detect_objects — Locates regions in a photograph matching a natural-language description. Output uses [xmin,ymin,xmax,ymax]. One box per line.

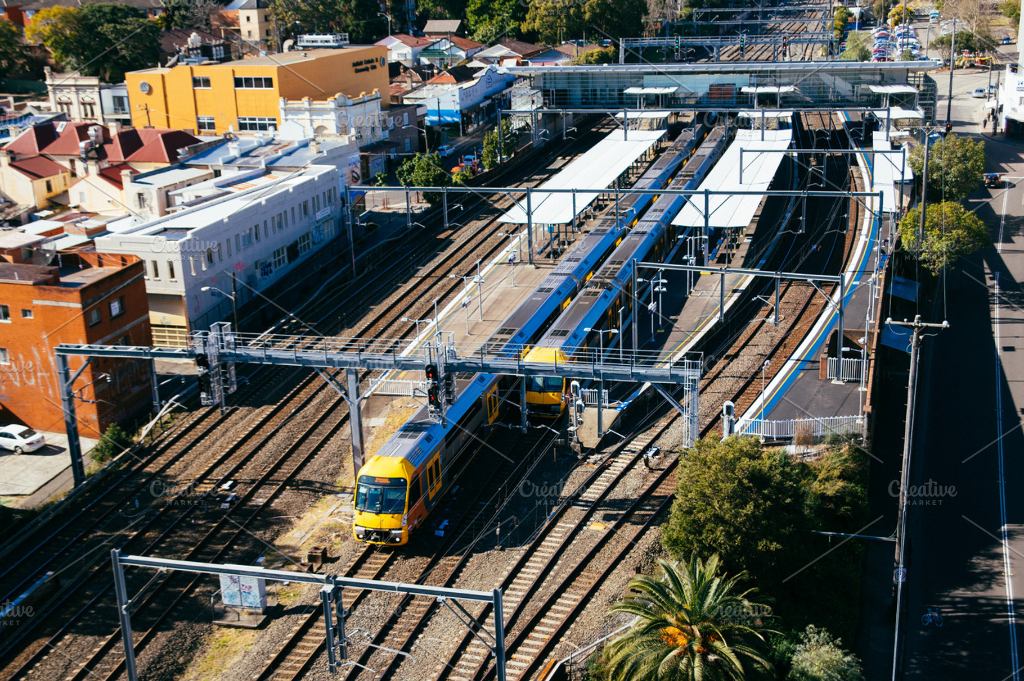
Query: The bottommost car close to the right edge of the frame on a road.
[983,174,1001,188]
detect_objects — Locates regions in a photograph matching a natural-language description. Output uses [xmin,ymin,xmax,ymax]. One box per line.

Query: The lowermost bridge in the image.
[508,58,941,133]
